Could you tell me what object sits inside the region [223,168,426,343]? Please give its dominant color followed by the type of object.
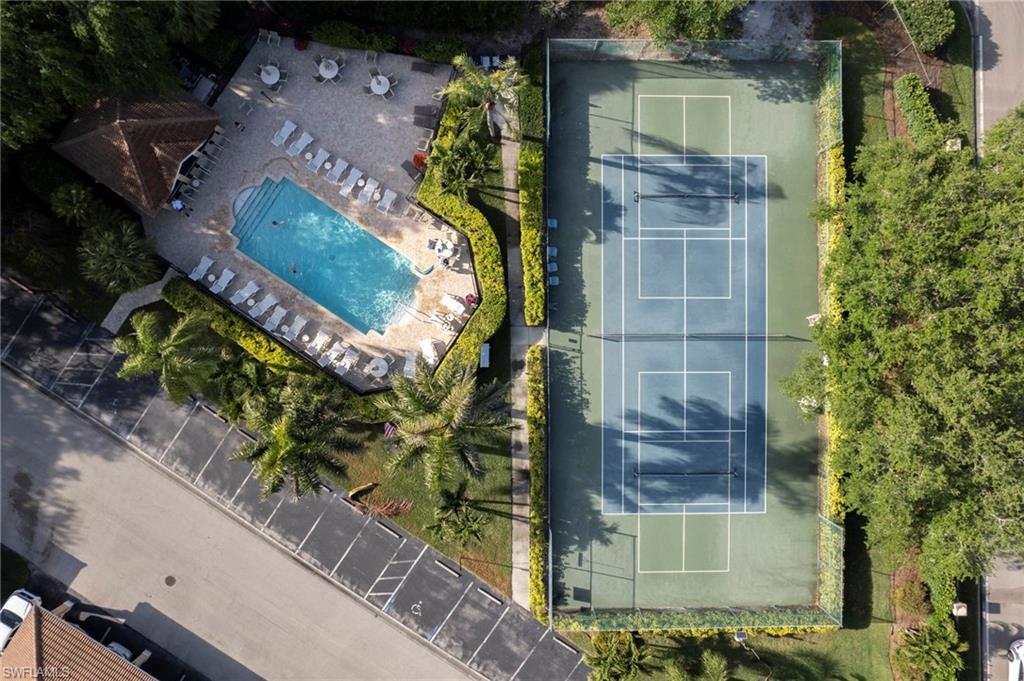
blue swimming pool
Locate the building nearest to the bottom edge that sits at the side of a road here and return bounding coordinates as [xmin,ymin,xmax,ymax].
[0,599,163,681]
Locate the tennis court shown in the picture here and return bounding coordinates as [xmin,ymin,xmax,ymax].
[548,61,818,605]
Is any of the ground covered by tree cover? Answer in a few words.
Yes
